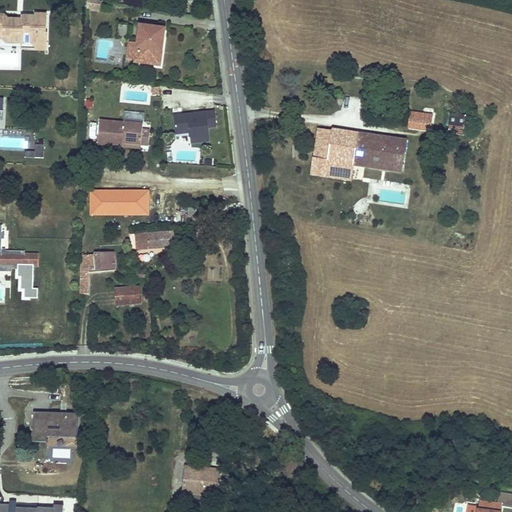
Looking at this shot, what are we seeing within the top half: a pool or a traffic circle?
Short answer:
pool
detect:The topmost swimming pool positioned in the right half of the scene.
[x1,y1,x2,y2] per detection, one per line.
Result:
[368,178,410,208]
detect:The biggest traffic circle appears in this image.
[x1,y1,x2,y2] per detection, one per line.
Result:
[222,346,294,432]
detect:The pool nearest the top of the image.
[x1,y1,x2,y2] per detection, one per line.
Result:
[93,38,125,68]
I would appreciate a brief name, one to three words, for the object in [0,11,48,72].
house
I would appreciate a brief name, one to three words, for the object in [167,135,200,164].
swimming pool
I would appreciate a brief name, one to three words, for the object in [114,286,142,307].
building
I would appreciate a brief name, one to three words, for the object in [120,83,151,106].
swimming pool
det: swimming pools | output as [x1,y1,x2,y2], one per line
[368,178,410,208]
[0,129,46,158]
[167,135,200,164]
[93,38,125,68]
[454,503,466,512]
[0,271,10,304]
[120,83,151,106]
